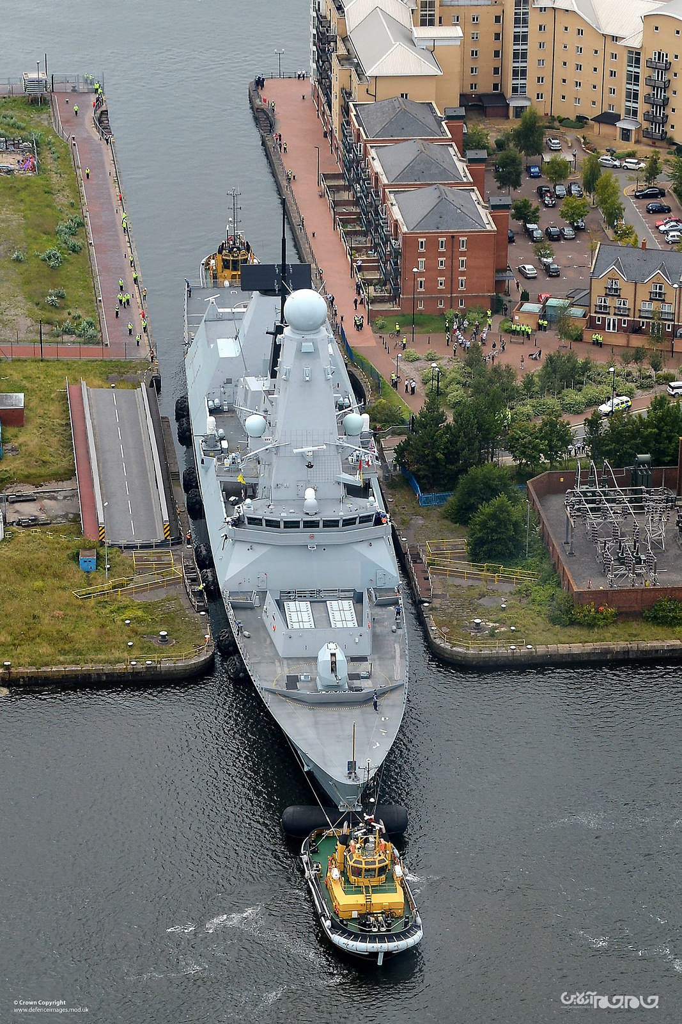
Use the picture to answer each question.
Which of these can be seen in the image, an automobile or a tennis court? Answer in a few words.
automobile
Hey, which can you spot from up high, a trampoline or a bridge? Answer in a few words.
bridge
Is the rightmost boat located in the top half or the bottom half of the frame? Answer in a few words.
bottom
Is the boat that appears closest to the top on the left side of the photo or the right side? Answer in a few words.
left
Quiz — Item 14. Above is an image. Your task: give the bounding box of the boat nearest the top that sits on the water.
[199,167,271,288]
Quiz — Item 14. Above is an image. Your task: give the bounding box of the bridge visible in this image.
[67,376,184,559]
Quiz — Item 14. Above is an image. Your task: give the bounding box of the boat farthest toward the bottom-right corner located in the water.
[299,769,425,979]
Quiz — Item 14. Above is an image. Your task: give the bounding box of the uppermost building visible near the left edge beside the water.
[21,69,50,101]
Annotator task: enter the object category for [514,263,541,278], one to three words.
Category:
car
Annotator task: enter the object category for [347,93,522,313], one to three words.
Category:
building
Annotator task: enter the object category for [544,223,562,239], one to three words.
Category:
car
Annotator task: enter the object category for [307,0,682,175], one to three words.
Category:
building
